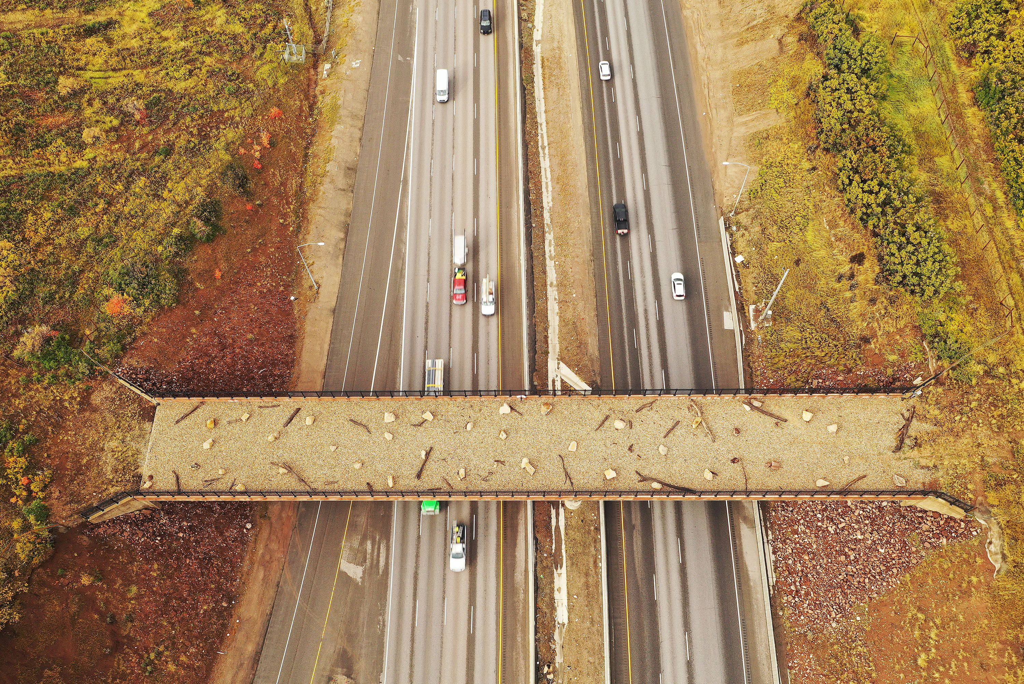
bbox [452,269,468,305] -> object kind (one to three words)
vehicle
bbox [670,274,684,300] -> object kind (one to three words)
car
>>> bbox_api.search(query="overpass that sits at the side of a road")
[84,369,973,523]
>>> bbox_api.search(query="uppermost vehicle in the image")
[480,12,492,35]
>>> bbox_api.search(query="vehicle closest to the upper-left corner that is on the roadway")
[436,70,450,103]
